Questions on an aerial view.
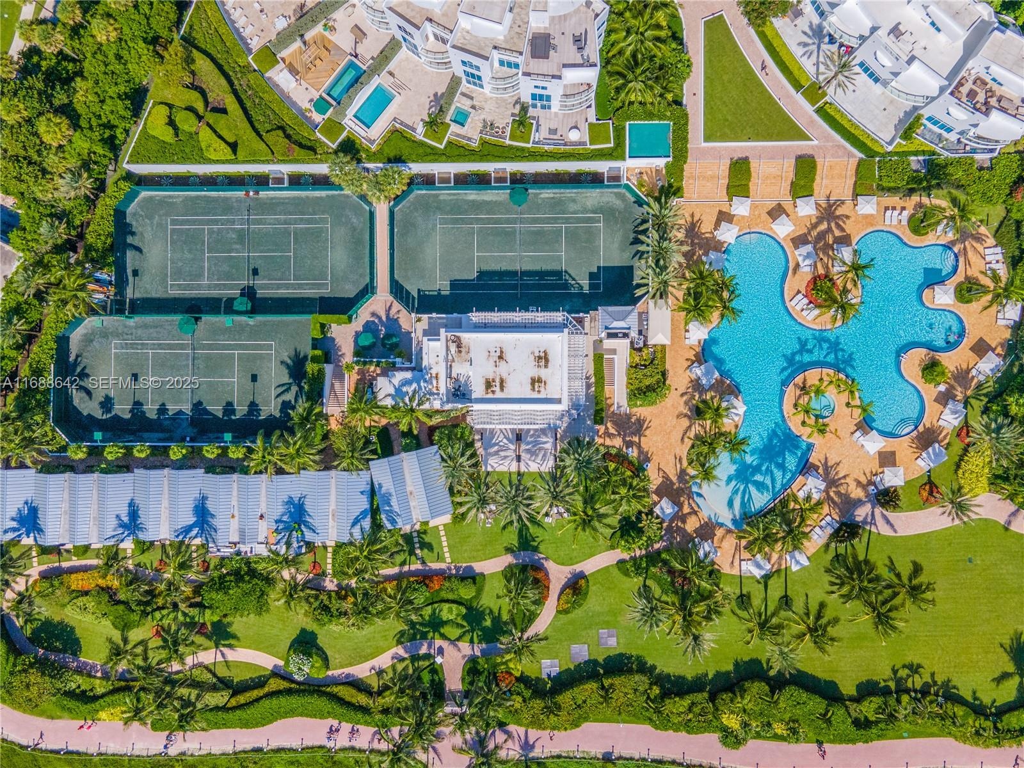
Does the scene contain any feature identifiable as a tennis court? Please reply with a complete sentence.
Yes, a tennis court appears in the view.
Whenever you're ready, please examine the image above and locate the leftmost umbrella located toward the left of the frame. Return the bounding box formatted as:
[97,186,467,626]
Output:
[179,316,197,334]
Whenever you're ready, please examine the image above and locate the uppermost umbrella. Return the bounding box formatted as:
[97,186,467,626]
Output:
[274,67,299,93]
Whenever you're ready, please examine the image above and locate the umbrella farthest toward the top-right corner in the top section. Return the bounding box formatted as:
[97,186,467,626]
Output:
[856,196,875,213]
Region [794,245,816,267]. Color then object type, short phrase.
white umbrella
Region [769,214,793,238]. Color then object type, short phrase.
white umbrella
